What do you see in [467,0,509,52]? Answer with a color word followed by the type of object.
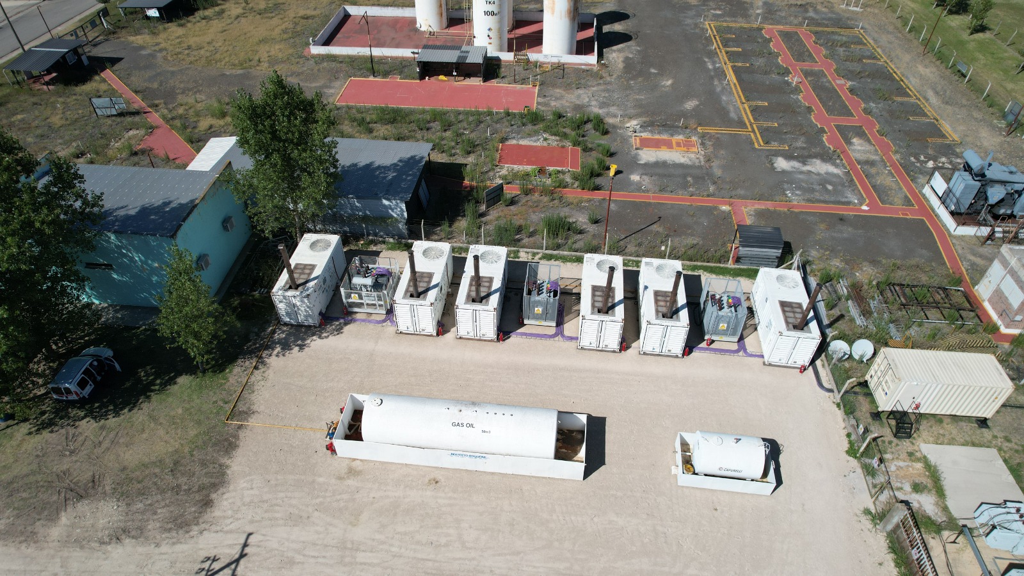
white storage tank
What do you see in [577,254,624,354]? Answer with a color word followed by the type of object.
white shipping container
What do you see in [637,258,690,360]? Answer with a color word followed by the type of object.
white shipping container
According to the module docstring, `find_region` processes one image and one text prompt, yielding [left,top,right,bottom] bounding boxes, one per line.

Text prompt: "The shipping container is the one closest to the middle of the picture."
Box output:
[455,245,507,344]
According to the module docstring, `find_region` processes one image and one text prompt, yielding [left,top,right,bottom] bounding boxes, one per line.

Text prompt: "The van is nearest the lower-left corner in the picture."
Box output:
[50,342,124,404]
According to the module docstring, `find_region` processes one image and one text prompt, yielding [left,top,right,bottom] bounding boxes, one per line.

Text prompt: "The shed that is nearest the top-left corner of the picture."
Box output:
[3,38,91,92]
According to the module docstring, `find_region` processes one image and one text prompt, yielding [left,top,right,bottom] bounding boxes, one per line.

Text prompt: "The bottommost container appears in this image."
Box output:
[857,347,1015,430]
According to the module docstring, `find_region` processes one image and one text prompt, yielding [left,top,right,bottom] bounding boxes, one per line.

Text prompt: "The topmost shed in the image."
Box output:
[118,0,181,28]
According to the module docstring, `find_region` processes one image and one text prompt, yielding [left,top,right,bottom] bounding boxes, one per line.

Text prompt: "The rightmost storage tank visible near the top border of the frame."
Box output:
[542,0,580,55]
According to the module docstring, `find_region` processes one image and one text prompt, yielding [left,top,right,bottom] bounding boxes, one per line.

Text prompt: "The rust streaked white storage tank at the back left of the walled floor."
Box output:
[417,0,455,30]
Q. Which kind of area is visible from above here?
industrial area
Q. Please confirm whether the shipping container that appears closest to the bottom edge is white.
Yes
